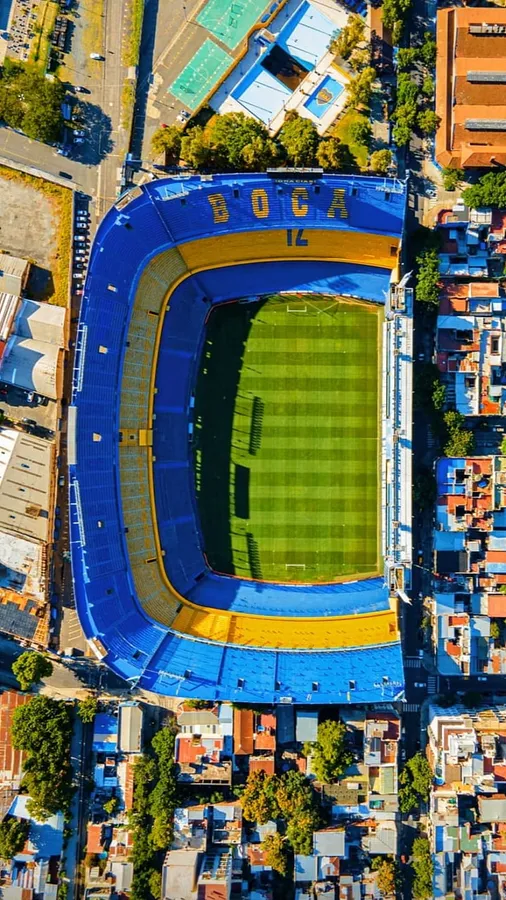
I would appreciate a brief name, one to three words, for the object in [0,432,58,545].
building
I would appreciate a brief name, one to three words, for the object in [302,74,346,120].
swimming pool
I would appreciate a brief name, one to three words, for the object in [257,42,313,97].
swimming pool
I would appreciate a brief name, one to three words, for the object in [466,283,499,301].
house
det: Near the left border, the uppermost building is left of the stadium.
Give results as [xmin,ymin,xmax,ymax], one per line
[0,254,35,300]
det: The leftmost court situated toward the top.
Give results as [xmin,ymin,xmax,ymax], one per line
[168,38,234,110]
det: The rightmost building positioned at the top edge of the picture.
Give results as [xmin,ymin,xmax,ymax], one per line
[429,8,506,178]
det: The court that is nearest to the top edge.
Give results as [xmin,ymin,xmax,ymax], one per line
[196,0,271,49]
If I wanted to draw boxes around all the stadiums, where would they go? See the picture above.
[66,165,416,705]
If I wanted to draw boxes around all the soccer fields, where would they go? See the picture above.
[191,294,385,584]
